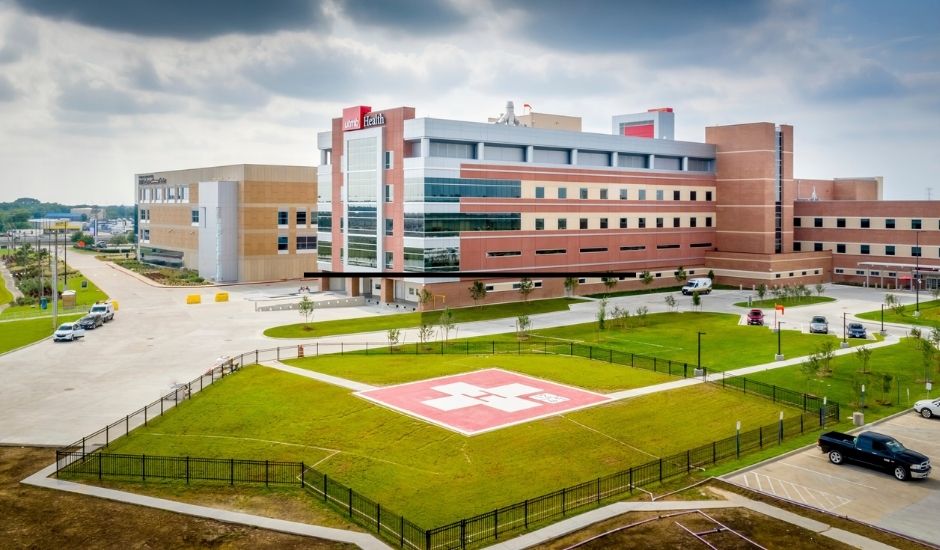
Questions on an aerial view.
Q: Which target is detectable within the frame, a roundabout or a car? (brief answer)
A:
car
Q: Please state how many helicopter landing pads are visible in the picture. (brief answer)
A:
1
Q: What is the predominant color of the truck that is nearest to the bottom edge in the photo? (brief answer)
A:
black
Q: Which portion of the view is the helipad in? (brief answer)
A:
bottom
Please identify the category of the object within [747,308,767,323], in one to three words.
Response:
car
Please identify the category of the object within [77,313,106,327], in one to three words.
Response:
vehicle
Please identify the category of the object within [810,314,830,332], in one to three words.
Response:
car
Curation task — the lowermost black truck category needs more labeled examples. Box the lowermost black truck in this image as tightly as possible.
[815,432,933,481]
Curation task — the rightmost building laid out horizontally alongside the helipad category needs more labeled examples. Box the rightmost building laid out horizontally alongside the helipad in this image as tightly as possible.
[318,103,940,305]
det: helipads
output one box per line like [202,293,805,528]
[352,367,616,435]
